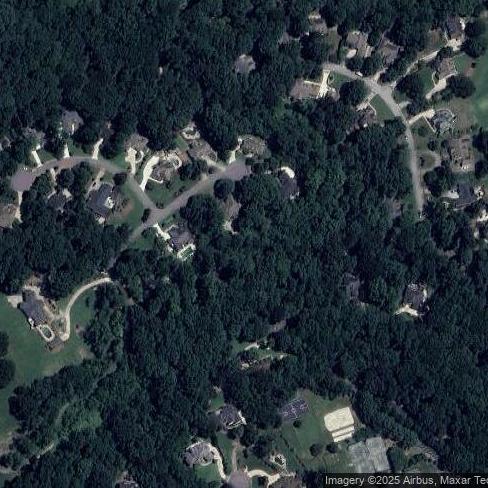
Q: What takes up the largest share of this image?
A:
trees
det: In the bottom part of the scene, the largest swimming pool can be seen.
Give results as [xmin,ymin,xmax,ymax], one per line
[38,324,54,342]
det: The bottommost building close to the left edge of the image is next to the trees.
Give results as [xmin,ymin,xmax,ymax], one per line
[18,289,52,324]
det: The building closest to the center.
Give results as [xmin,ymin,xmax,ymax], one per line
[221,194,239,220]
